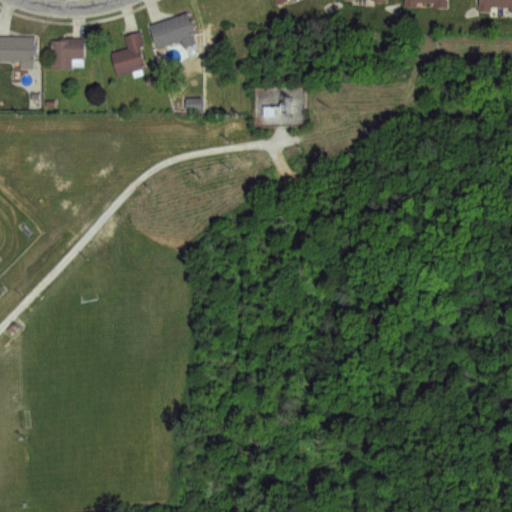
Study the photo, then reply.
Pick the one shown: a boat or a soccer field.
soccer field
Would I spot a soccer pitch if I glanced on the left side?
Yes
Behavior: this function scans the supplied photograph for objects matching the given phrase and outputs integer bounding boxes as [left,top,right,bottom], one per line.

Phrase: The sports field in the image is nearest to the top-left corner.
[0,182,38,272]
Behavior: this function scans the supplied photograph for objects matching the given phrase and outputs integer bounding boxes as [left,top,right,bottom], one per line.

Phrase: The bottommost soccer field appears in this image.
[23,237,188,504]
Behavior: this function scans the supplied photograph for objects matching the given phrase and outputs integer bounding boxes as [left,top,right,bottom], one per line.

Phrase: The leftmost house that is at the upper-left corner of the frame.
[0,35,34,68]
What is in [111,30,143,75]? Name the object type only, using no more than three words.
house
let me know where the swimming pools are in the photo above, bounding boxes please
[20,74,32,86]
[166,48,180,64]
